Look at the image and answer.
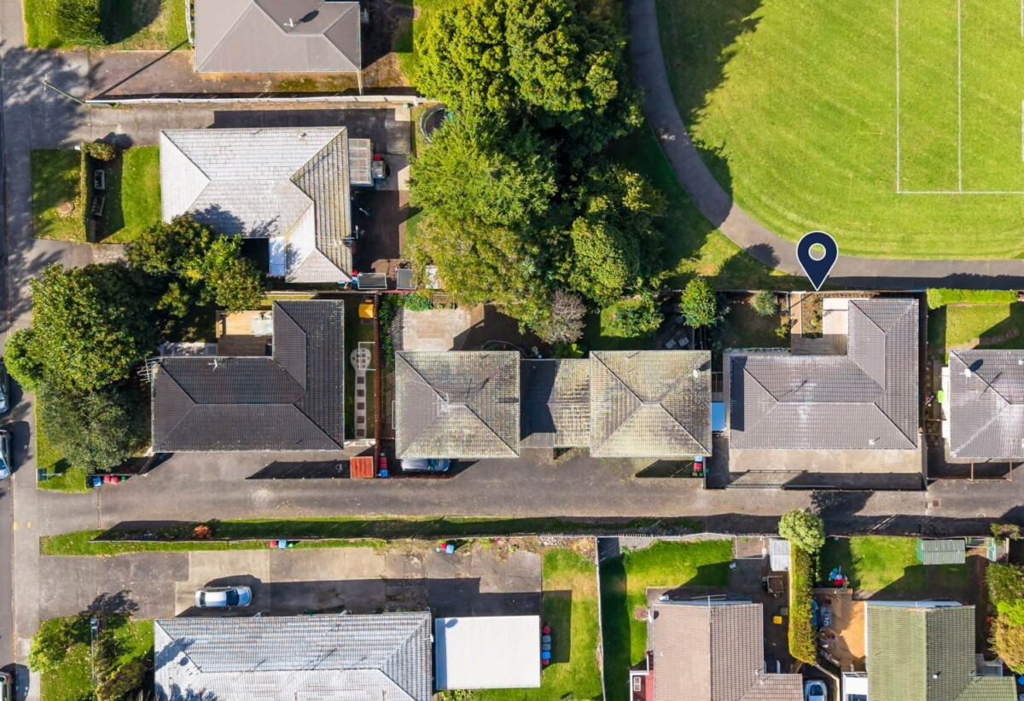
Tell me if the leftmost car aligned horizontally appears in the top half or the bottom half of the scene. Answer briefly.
bottom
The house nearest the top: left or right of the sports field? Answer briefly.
on the left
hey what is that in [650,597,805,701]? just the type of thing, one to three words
house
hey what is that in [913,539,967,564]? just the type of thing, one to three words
shed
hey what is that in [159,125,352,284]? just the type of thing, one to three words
house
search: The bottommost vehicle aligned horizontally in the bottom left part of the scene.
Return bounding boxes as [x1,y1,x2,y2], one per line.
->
[191,586,252,613]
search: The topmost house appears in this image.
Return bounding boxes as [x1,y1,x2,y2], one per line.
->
[193,0,364,74]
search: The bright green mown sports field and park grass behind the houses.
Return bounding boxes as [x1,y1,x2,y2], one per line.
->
[546,0,1024,291]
